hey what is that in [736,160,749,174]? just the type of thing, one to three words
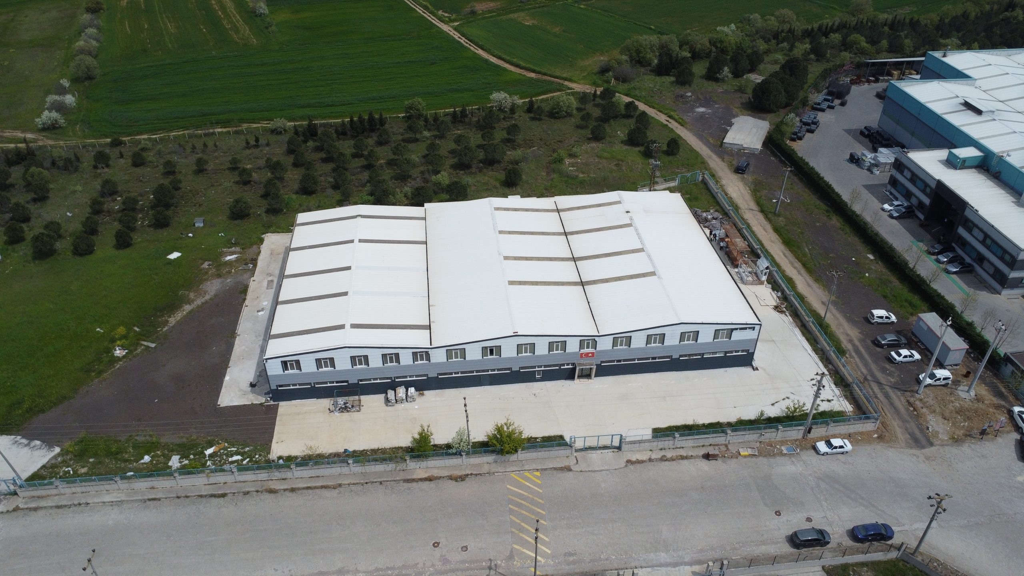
vehicle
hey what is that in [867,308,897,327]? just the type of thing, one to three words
vehicle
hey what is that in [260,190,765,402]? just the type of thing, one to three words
warehouse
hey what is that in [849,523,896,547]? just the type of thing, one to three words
car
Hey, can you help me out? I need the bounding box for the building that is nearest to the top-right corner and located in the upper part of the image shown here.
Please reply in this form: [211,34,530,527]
[878,42,1024,187]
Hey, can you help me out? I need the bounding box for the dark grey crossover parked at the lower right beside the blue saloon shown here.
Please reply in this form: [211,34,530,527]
[788,527,834,552]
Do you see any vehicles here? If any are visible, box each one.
[884,201,909,213]
[945,262,977,276]
[890,207,916,220]
[788,527,834,552]
[849,523,896,547]
[867,308,897,327]
[918,370,953,388]
[736,160,749,174]
[814,438,854,457]
[935,253,965,266]
[888,349,922,366]
[874,334,909,349]
[927,244,958,256]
